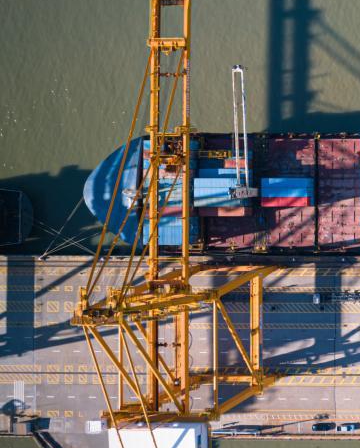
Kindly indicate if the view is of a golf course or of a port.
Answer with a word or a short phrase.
port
